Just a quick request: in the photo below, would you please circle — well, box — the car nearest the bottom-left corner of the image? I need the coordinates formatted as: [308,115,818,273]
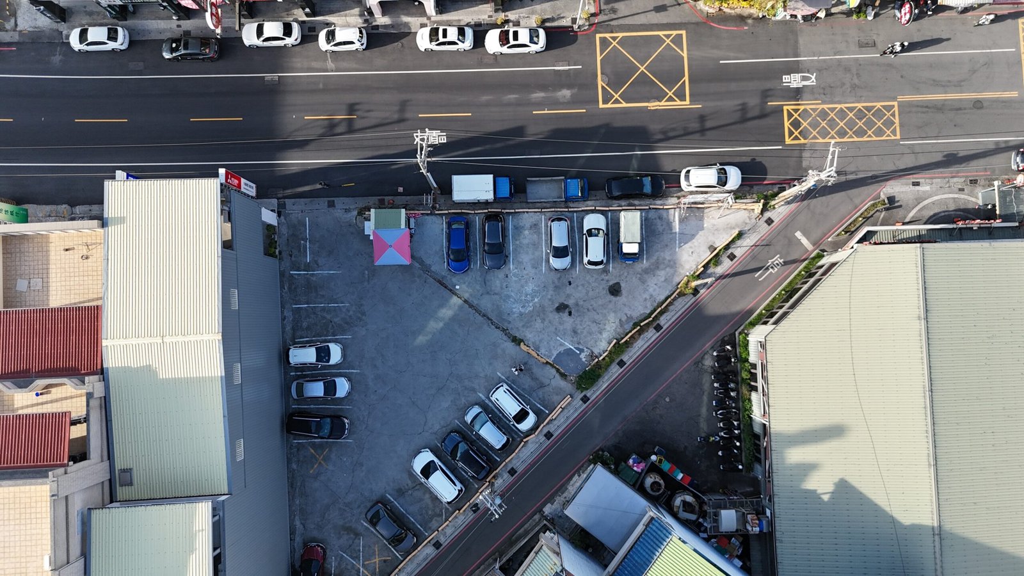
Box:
[297,542,328,576]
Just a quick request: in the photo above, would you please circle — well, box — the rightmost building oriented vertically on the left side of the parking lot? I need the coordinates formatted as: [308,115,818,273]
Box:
[101,176,284,576]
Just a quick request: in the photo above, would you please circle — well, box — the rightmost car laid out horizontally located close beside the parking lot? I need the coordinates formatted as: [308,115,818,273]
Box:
[680,162,741,192]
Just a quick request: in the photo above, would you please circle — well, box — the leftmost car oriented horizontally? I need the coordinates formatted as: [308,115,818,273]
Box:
[68,23,130,53]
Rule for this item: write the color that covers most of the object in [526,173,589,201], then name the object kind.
blue truck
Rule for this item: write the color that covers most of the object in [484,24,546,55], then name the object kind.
white car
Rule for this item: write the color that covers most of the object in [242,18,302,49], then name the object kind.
white car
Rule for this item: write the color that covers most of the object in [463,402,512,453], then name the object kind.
blue car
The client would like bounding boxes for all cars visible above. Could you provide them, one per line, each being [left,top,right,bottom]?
[581,213,609,269]
[463,402,512,453]
[479,212,508,270]
[546,216,574,271]
[161,33,221,63]
[443,216,471,273]
[486,381,538,434]
[606,171,665,200]
[285,411,350,442]
[411,446,466,507]
[484,24,546,55]
[680,162,741,192]
[242,18,302,49]
[290,373,352,402]
[297,542,328,576]
[68,23,130,53]
[1010,149,1024,174]
[365,499,416,555]
[284,339,344,368]
[416,22,474,52]
[440,427,493,485]
[318,24,368,54]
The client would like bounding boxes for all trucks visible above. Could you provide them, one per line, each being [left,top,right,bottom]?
[526,173,589,201]
[618,209,645,264]
[450,171,516,201]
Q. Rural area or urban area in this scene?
urban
